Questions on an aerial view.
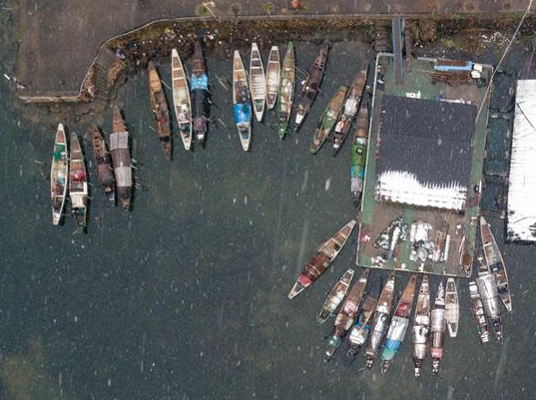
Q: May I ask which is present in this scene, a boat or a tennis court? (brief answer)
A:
boat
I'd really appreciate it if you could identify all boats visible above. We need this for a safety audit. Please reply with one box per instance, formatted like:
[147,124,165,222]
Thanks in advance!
[382,273,417,379]
[469,281,490,344]
[412,273,431,383]
[266,44,281,108]
[430,282,447,379]
[477,250,505,353]
[49,121,68,225]
[145,60,173,159]
[277,40,308,139]
[170,46,193,149]
[68,131,88,232]
[310,84,347,154]
[347,273,384,364]
[332,59,369,156]
[352,98,370,213]
[325,268,370,364]
[249,40,266,121]
[288,219,357,300]
[293,40,329,130]
[231,48,258,151]
[481,216,513,313]
[446,278,460,339]
[89,123,117,207]
[368,271,396,371]
[110,104,152,216]
[190,40,226,152]
[317,268,353,325]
